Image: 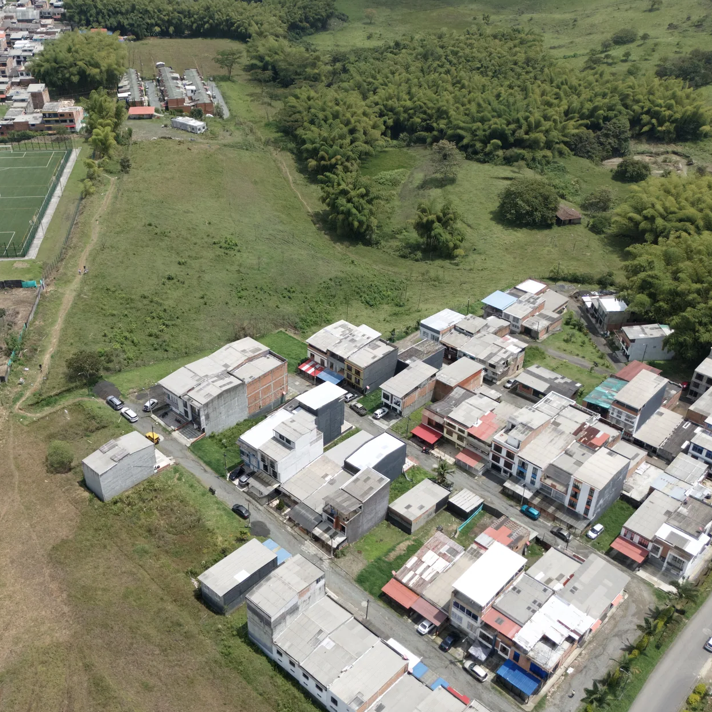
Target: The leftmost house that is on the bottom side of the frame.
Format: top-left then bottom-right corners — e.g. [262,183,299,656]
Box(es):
[80,432,177,500]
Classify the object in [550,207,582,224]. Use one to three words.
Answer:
shed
